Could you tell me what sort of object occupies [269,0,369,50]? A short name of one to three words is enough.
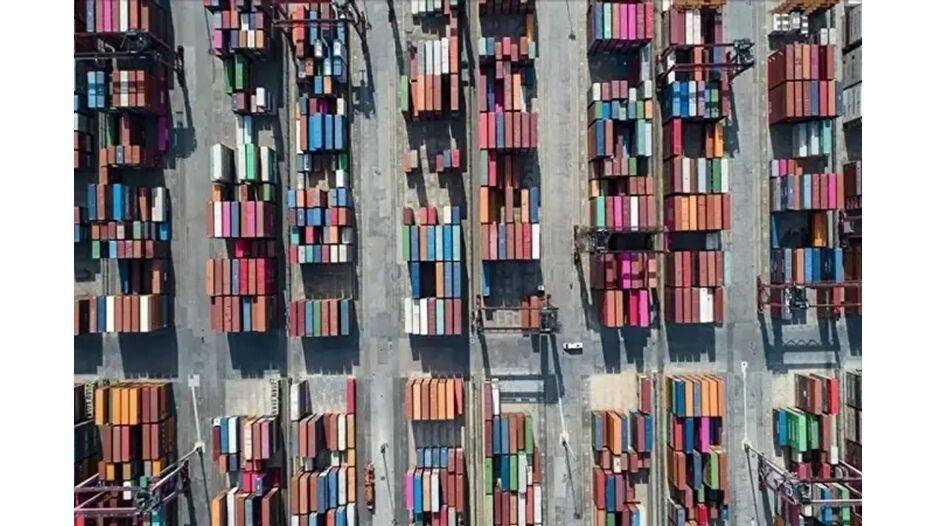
container crane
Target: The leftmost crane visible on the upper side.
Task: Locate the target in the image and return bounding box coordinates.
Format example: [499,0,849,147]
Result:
[63,31,182,79]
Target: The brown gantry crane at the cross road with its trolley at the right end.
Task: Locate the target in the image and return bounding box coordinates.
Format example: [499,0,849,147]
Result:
[468,292,558,336]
